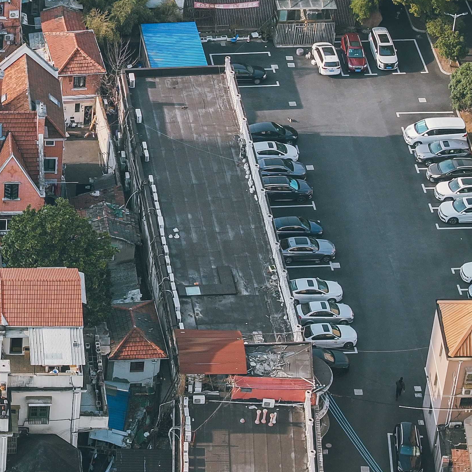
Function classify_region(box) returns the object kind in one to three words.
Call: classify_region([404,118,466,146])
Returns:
car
